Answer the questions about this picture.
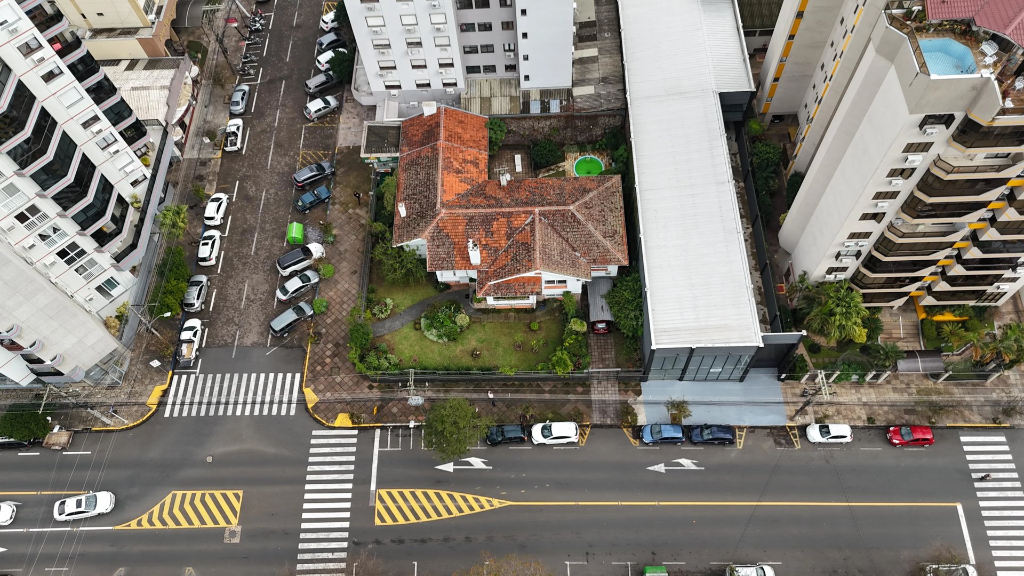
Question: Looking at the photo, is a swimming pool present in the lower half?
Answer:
No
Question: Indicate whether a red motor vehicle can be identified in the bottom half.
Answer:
Yes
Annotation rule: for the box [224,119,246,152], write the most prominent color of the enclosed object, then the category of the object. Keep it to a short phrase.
white truck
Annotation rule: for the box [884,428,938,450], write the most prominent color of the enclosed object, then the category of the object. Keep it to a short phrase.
red car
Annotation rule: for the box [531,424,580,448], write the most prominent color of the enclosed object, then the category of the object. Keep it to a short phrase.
white car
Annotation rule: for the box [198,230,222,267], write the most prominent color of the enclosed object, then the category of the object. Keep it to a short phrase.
white car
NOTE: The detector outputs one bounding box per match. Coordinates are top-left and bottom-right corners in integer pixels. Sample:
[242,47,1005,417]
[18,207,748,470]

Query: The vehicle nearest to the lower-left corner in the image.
[0,503,20,527]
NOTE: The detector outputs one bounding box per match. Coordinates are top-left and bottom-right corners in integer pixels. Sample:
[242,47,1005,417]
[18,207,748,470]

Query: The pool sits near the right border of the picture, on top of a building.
[918,37,979,74]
